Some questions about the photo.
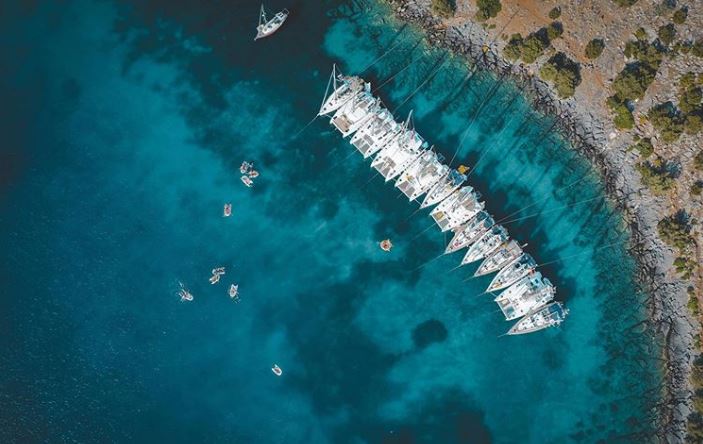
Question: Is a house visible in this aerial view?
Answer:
No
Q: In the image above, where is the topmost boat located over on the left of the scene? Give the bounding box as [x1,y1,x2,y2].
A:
[255,8,290,41]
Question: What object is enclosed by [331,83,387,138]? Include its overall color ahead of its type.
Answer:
white boat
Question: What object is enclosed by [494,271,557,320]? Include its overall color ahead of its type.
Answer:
white boat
